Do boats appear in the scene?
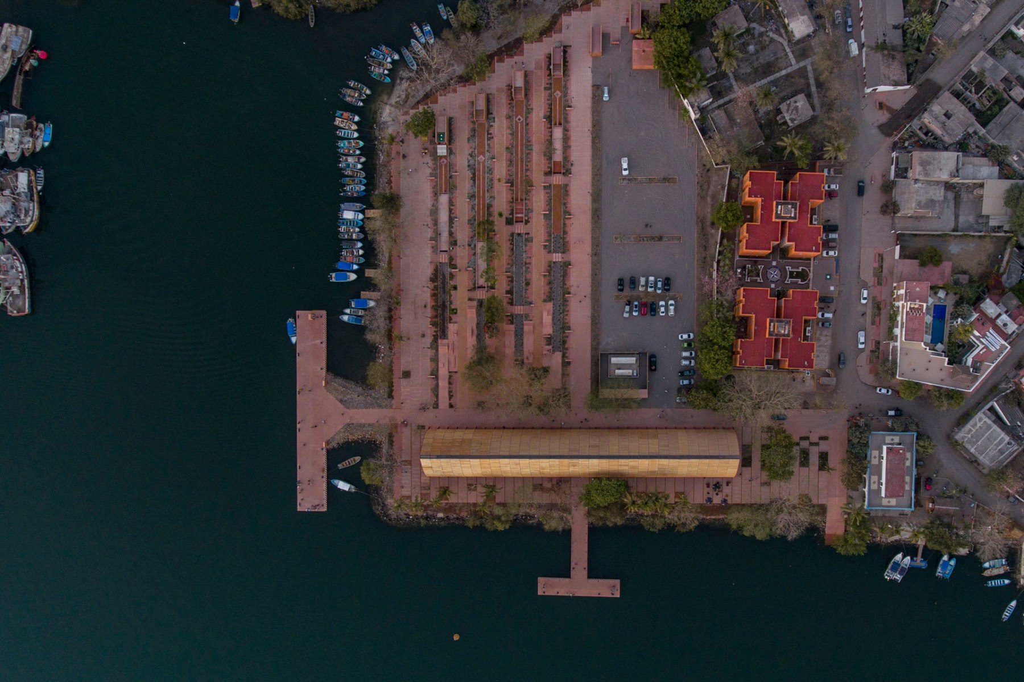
Yes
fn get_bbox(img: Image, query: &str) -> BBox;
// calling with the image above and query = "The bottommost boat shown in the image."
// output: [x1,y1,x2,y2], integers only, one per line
[1000,601,1017,623]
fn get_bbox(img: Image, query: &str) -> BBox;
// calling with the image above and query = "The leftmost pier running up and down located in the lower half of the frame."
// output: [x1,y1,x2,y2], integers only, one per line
[297,311,392,511]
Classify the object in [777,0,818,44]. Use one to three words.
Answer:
house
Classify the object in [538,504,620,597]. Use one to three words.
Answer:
pier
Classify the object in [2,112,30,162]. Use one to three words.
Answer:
boat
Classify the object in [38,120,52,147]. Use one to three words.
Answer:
boat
